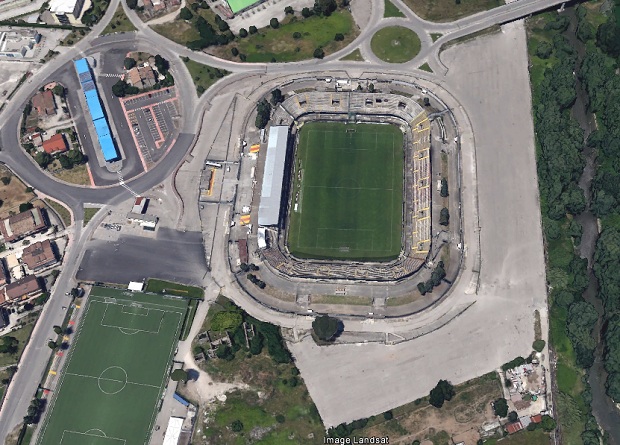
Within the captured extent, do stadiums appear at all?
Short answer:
Yes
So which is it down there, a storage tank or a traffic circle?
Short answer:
traffic circle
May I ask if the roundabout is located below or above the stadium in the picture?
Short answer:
above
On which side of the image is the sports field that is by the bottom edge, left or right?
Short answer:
left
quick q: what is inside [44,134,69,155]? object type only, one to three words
house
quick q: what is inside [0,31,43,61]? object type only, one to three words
building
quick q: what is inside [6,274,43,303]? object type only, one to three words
house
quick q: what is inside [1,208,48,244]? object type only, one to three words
building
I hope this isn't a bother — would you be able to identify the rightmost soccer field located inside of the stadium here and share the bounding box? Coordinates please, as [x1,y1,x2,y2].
[287,122,403,262]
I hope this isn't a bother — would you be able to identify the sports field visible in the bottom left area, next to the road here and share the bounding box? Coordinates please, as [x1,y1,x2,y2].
[36,287,190,445]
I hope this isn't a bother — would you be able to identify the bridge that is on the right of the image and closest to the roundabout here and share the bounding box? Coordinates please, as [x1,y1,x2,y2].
[438,0,577,41]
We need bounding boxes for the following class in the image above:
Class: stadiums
[257,81,449,285]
